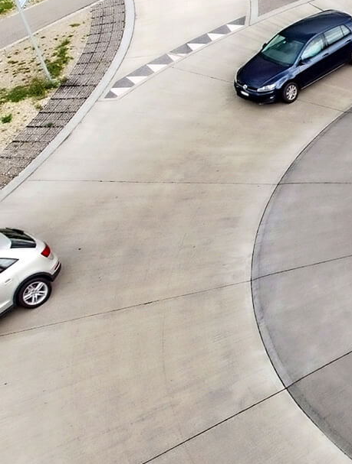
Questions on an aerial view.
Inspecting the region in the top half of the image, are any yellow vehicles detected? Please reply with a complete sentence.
No, no yellow vehicle can be made out in the top half of the image.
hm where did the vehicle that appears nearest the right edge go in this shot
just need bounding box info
[229,10,352,103]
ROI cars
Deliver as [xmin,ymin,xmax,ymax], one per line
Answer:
[229,10,352,103]
[0,226,54,316]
